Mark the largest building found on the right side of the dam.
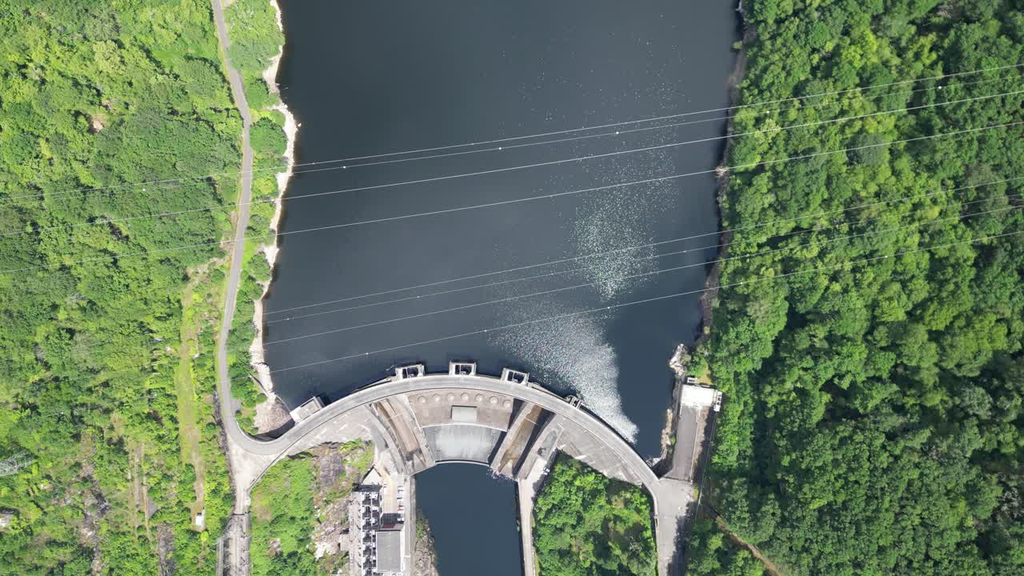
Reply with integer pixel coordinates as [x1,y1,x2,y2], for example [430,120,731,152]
[678,383,714,408]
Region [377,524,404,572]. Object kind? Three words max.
building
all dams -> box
[256,363,658,492]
